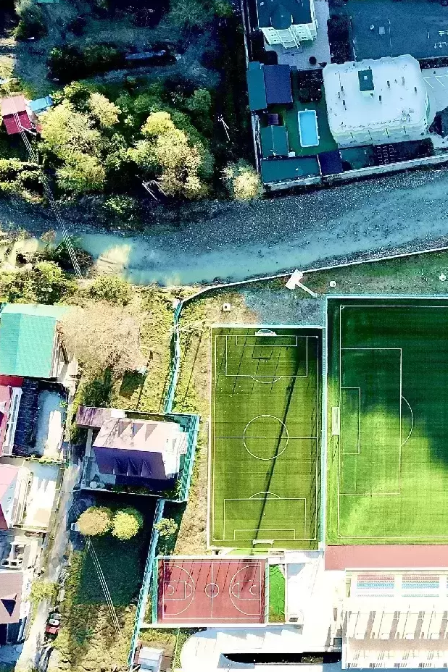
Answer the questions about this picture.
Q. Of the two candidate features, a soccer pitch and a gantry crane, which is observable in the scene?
soccer pitch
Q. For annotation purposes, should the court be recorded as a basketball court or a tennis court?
basketball court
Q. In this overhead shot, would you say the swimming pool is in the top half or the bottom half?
top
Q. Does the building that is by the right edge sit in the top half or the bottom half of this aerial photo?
top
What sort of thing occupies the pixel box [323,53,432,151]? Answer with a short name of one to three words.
building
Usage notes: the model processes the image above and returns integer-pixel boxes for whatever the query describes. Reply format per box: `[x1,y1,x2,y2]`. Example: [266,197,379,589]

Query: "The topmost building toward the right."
[257,0,318,52]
